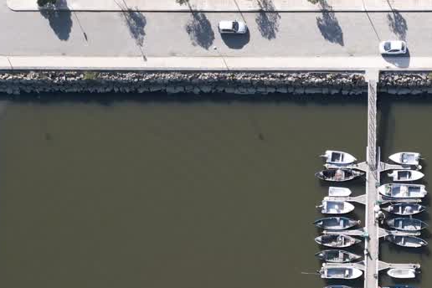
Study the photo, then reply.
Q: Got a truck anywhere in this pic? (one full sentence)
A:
No, no truck is visible in the view.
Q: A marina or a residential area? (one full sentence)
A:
The picture captures a marina.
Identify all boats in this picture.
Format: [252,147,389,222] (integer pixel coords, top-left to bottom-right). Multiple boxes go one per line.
[314,249,365,262]
[378,151,428,164]
[314,168,365,181]
[328,186,351,196]
[384,217,429,230]
[377,235,428,246]
[378,182,432,197]
[313,235,363,247]
[378,202,426,215]
[318,149,364,163]
[314,199,364,214]
[314,266,363,280]
[378,168,424,181]
[313,216,357,229]
[378,267,422,278]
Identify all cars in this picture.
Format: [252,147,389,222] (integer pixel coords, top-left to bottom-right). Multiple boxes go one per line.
[380,40,408,56]
[219,19,248,36]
